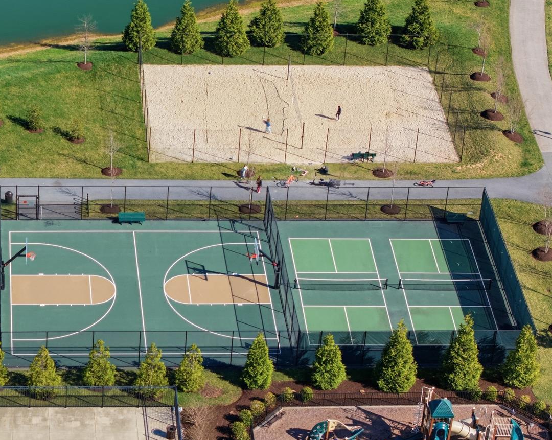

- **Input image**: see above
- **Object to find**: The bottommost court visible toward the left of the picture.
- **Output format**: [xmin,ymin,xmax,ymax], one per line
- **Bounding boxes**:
[9,231,281,354]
